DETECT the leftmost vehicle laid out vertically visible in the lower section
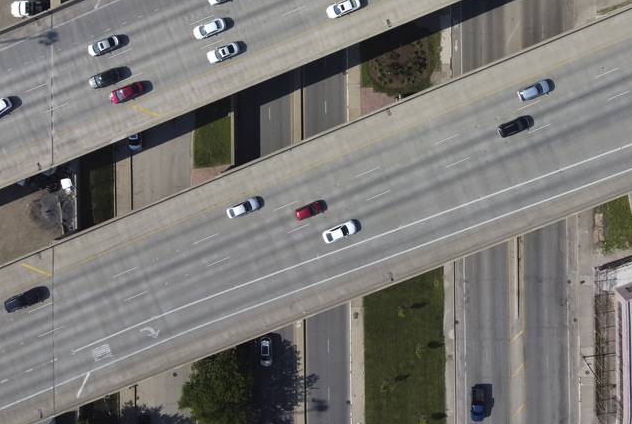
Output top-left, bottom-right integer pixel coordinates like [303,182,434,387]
[259,335,273,365]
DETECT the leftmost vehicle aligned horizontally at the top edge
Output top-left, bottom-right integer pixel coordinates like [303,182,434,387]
[9,0,56,18]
